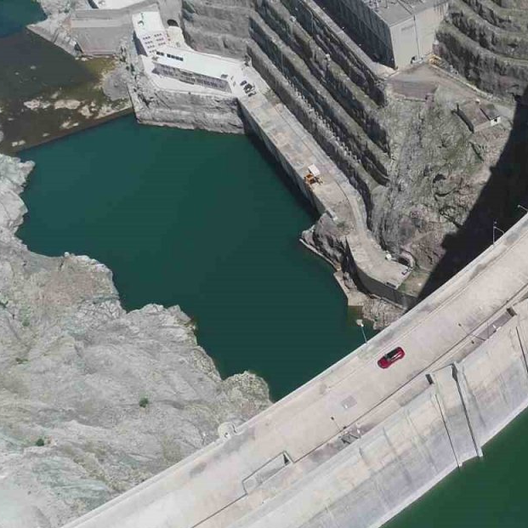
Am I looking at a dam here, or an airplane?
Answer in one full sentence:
It is a dam that can be seen here.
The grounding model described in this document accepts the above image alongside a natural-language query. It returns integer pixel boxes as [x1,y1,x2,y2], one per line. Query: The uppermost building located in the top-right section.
[333,0,452,71]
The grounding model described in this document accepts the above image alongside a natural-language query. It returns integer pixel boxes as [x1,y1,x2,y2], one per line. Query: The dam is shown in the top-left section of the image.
[17,112,130,156]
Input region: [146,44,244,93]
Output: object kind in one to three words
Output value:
building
